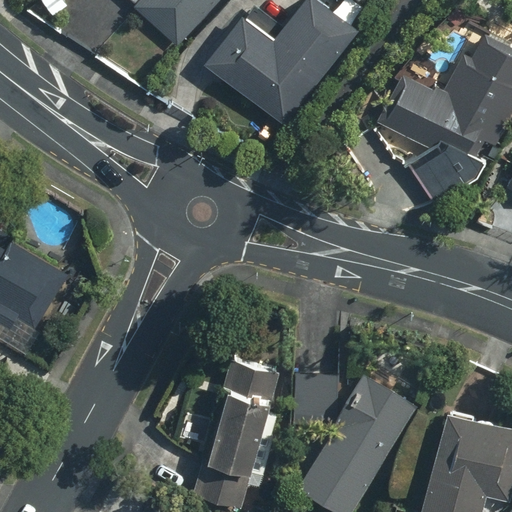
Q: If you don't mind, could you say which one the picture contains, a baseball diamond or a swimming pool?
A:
swimming pool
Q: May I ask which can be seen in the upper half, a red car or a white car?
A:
red car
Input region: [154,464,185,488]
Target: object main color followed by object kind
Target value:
white car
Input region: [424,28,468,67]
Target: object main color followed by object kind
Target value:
blue swimming pool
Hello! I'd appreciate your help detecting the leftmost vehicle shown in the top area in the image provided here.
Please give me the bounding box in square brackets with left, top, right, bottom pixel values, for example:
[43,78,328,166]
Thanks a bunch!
[92,160,122,188]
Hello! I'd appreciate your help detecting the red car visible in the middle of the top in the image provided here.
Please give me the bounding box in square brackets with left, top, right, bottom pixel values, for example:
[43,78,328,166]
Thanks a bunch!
[258,0,288,24]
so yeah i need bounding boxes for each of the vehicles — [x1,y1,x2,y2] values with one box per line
[154,464,185,488]
[18,502,34,512]
[92,160,122,188]
[258,0,288,24]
